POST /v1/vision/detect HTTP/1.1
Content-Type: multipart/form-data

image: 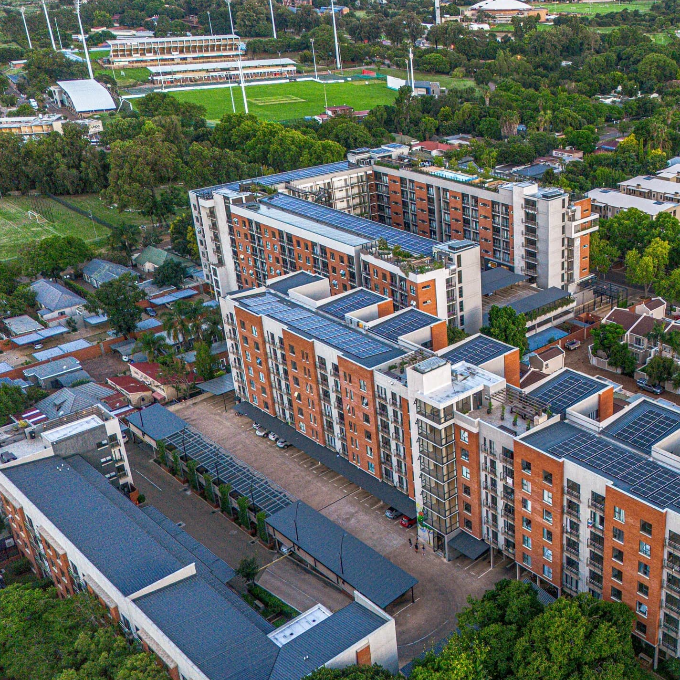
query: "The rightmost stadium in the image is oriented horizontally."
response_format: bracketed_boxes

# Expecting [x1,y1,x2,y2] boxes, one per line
[459,0,577,31]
